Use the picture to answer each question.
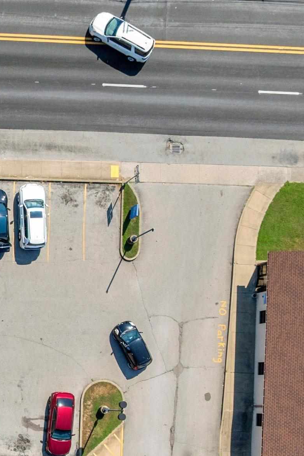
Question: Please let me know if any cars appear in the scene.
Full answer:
Yes, there's a car down there.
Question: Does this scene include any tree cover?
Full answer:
No, there is no tree cover in the image.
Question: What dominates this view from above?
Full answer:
What you mostly see from above here is paved ground.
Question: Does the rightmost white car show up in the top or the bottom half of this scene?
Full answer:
You can find the rightmost white car in the top half.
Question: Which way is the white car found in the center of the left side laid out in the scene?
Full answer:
In this picture, the white car found in the center of the left side is oriented vertically.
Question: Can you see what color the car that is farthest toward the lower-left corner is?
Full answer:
The color of the car that is farthest toward the lower-left corner is red.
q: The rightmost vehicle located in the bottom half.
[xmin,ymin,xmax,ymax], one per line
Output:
[113,318,154,373]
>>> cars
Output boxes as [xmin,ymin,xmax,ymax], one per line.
[0,190,12,255]
[88,13,158,65]
[44,393,77,456]
[19,184,51,250]
[113,318,154,373]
